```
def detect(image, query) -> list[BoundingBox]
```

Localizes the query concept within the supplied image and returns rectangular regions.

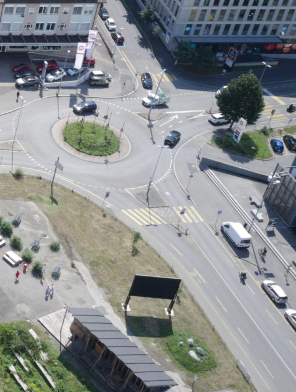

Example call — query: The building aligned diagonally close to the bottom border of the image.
[30,302,172,392]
